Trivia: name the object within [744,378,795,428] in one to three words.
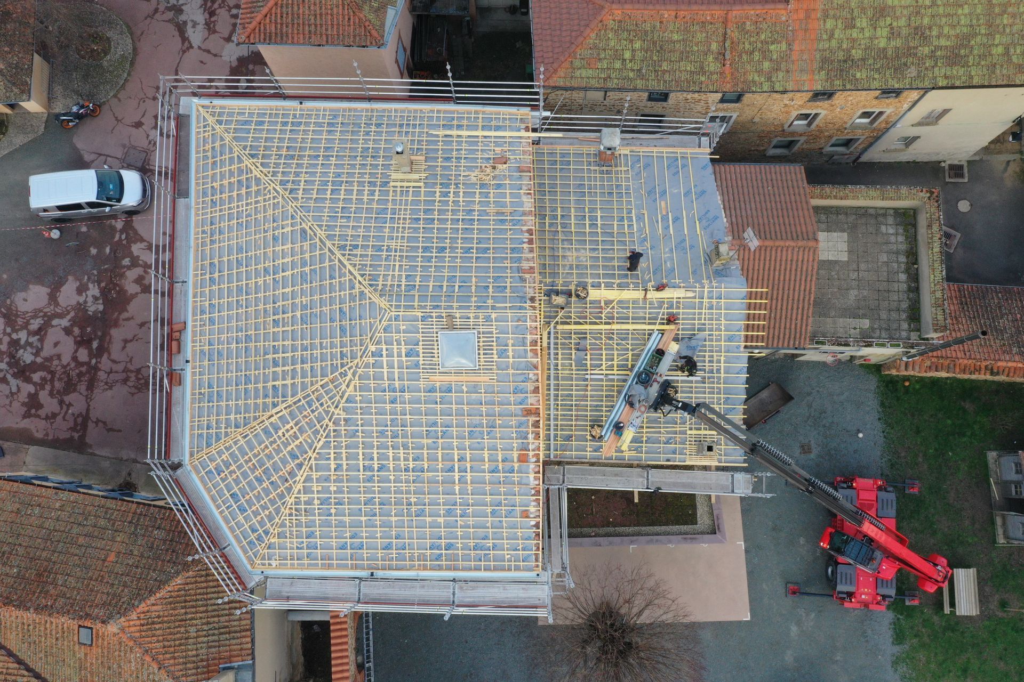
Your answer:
trailer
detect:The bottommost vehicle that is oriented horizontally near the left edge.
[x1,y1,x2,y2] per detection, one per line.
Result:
[29,164,159,223]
